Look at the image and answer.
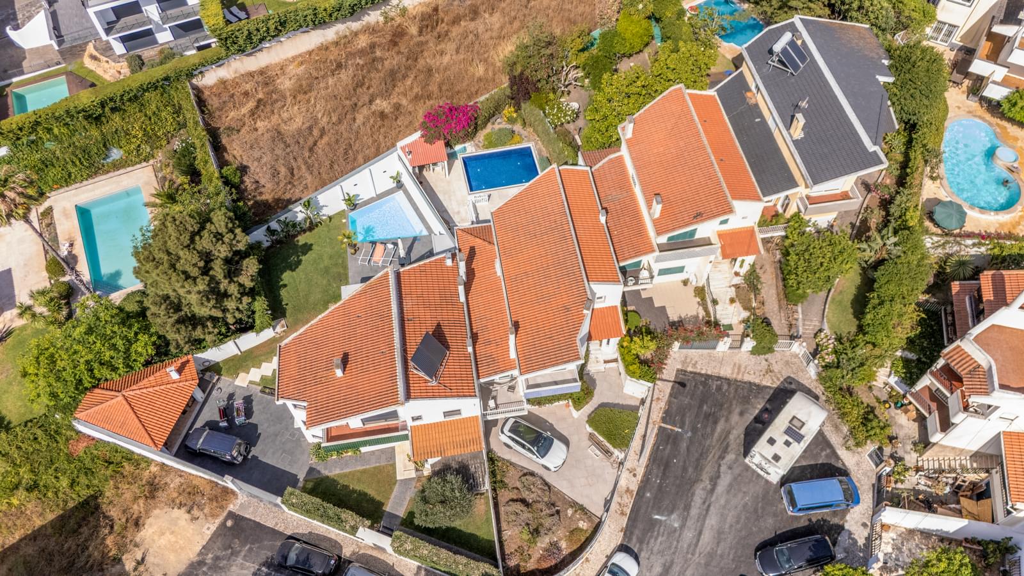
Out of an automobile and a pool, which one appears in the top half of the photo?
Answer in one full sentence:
You can see a pool in the top half of the photo.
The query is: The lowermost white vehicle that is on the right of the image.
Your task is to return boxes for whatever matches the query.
[592,546,641,576]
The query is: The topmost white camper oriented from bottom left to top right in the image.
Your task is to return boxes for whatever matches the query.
[739,392,829,486]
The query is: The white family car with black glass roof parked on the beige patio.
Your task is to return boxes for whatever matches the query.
[496,414,568,472]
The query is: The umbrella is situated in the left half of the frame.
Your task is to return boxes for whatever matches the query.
[396,238,410,269]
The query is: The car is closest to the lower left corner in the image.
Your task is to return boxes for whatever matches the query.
[181,424,252,469]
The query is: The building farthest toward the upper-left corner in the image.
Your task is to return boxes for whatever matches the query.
[85,0,211,56]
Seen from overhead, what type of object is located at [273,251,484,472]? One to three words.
house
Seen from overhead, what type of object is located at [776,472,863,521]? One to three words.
van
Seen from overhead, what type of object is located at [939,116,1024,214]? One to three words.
swimming pool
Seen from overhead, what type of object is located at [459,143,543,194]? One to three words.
swimming pool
